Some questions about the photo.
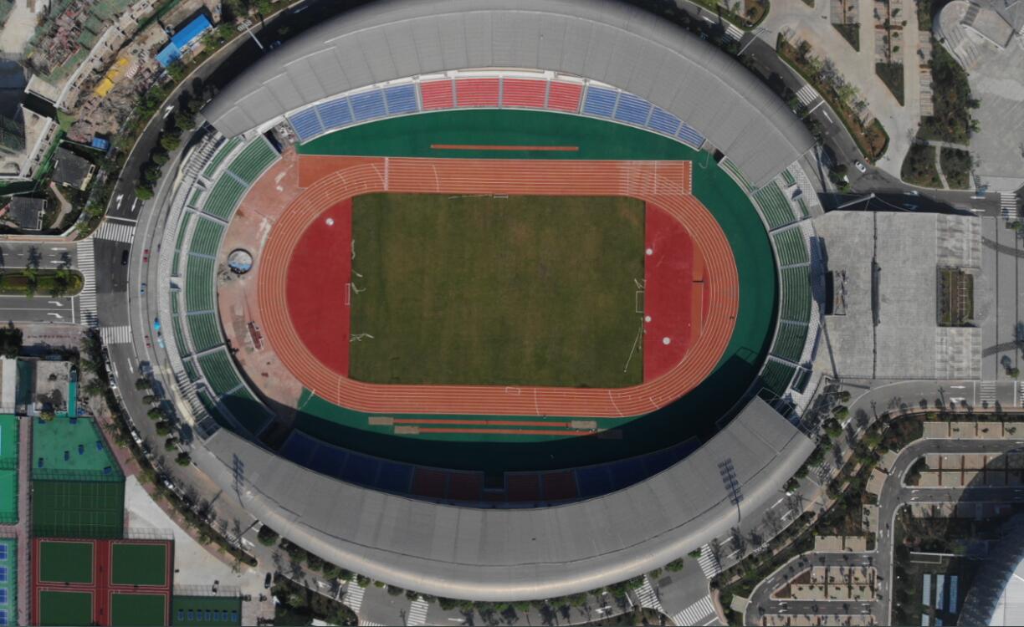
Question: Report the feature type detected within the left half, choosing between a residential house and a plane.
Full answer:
The one visible within the left half is a residential house.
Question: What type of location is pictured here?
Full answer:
It's a sports ground.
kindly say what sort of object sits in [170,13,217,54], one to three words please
shed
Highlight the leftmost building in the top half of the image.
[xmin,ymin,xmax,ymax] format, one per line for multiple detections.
[9,197,54,230]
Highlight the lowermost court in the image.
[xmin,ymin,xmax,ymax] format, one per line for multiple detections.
[174,597,240,627]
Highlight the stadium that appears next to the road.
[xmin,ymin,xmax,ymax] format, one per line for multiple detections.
[155,0,835,601]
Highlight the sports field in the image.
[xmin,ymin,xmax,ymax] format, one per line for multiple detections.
[351,194,645,386]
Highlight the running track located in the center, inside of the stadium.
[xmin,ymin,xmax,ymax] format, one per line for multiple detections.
[257,110,777,471]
